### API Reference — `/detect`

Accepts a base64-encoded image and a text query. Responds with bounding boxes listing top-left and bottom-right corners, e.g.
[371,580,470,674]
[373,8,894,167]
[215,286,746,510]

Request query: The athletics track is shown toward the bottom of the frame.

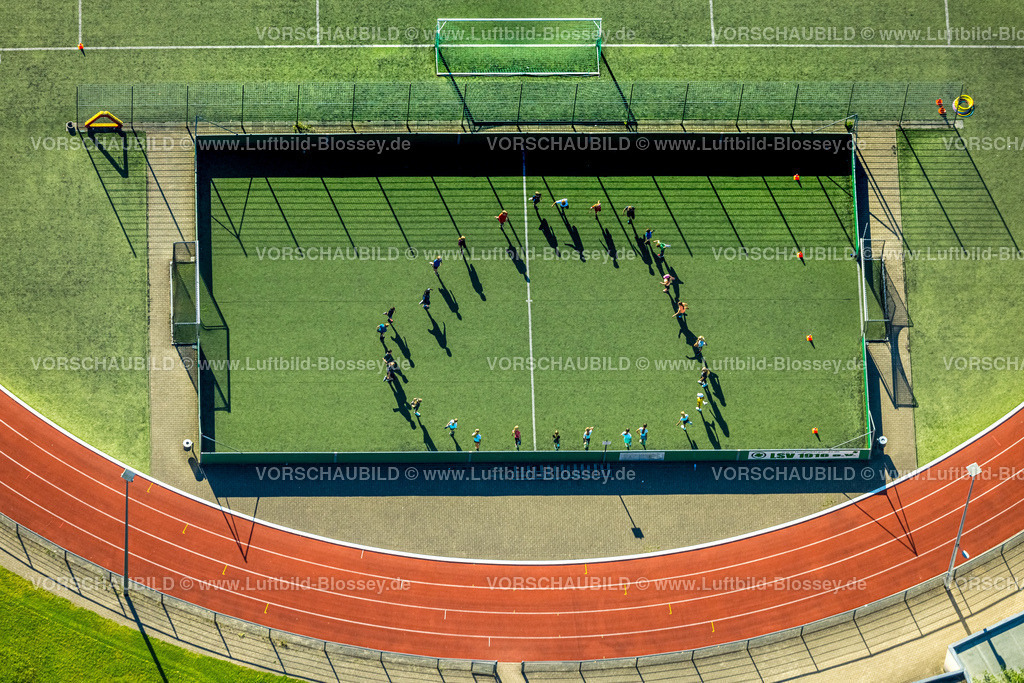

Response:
[0,383,1024,664]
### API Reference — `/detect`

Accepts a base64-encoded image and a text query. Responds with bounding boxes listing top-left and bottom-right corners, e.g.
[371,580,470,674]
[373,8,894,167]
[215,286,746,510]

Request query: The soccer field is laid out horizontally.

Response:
[0,0,1024,475]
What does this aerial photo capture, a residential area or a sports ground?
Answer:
sports ground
